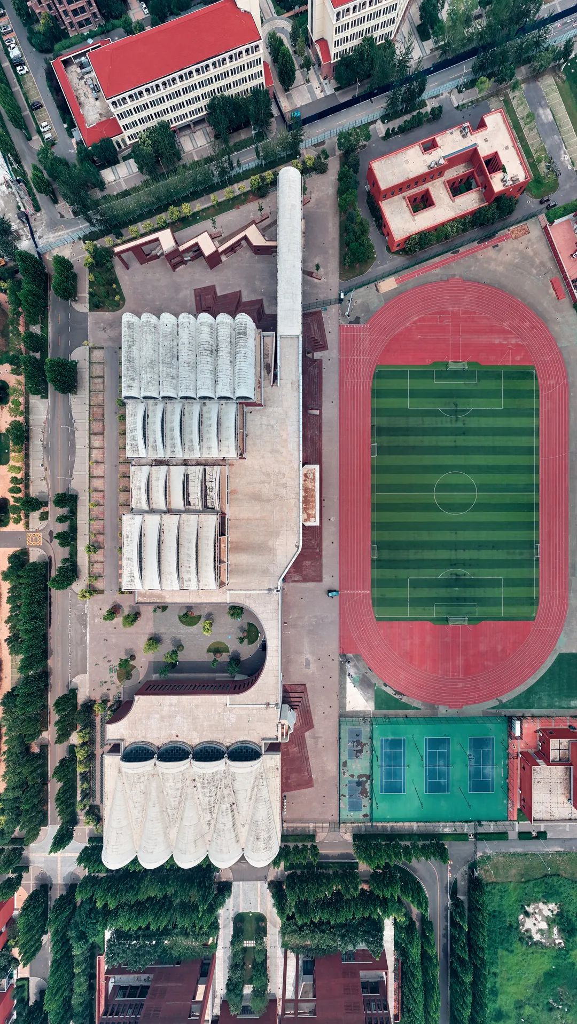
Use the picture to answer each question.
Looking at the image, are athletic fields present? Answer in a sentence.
Yes, an athletic field is visible in the scene.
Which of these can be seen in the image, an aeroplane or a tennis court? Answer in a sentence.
There is a tennis court in the scene.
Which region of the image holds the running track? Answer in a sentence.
The running track sits in the right section of the image.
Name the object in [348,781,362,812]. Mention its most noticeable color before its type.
blue sports court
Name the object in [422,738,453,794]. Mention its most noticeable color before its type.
blue tennis court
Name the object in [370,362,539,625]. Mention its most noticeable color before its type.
green sports field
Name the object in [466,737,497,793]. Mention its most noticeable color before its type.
blue tennis court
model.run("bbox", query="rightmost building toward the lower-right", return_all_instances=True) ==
[517,723,577,825]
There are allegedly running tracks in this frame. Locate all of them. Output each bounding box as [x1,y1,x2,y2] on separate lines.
[340,278,568,709]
